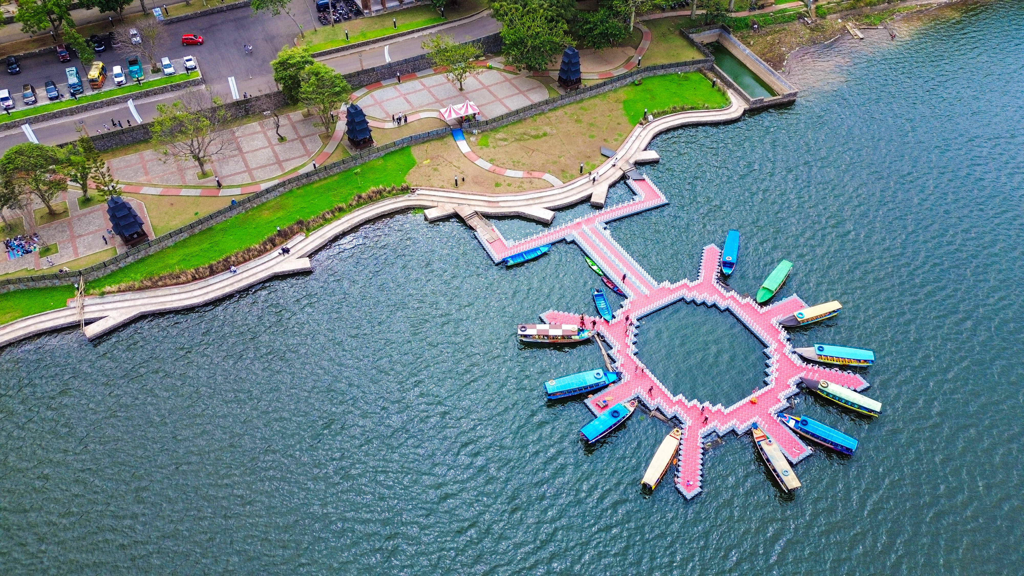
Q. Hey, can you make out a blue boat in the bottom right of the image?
Yes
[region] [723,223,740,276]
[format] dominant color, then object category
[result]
blue boat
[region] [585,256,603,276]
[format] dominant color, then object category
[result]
green boat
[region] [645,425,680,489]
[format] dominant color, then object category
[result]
white boat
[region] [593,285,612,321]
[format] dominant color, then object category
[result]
blue boat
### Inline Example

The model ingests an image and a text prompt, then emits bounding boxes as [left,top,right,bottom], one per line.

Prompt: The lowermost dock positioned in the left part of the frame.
[85,316,141,346]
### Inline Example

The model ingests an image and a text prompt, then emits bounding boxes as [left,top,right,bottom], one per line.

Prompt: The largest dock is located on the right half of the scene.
[471,169,869,498]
